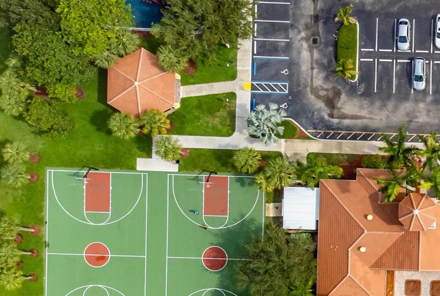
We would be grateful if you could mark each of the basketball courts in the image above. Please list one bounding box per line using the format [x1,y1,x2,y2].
[155,171,266,296]
[44,168,157,296]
